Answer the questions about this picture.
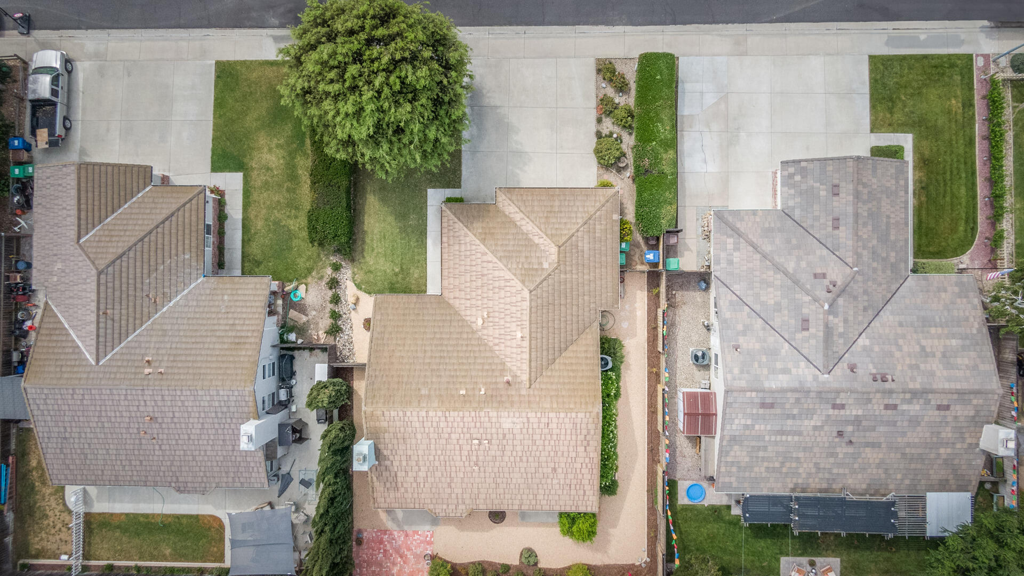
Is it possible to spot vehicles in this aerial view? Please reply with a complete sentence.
Yes, there's a vehicle down there.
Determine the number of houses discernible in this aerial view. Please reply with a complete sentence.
My tally gives 3 houses in this view.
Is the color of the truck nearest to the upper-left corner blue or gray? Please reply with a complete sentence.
From above, the truck nearest to the upper-left corner appears gray.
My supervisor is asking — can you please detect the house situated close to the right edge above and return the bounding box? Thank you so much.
[709,155,1015,494]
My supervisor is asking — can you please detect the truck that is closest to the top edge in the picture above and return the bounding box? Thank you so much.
[25,49,73,148]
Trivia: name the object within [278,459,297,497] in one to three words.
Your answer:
umbrella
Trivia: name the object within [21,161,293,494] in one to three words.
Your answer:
house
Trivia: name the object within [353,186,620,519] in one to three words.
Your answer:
house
